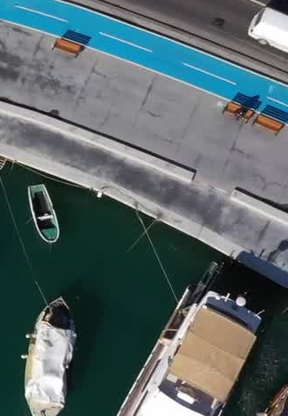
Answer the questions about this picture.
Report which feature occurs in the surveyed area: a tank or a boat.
boat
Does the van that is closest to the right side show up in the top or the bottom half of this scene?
top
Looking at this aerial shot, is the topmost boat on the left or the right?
left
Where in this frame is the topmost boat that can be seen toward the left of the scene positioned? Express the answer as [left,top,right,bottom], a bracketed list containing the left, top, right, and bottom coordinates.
[27,183,59,244]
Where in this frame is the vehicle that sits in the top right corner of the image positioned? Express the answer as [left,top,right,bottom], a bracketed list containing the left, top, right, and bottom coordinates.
[253,7,288,54]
